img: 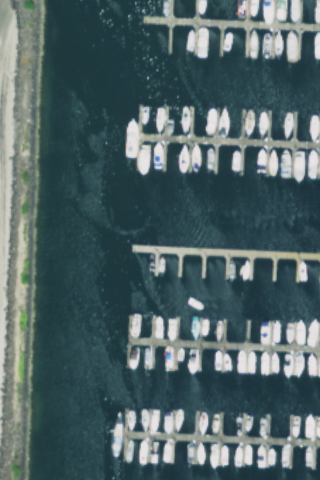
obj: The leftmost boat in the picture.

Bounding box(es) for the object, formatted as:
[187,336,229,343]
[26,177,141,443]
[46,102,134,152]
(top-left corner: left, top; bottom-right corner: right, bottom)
[110,412,122,458]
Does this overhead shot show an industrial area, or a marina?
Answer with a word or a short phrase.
marina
